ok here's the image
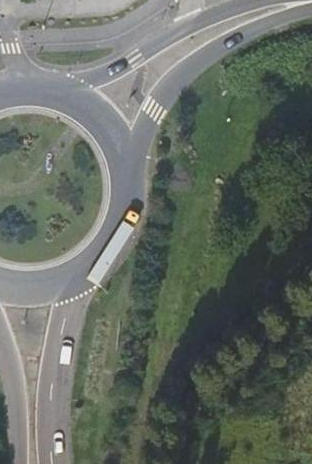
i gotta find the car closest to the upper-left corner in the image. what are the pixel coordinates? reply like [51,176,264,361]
[107,58,128,75]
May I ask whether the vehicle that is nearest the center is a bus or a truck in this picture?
truck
